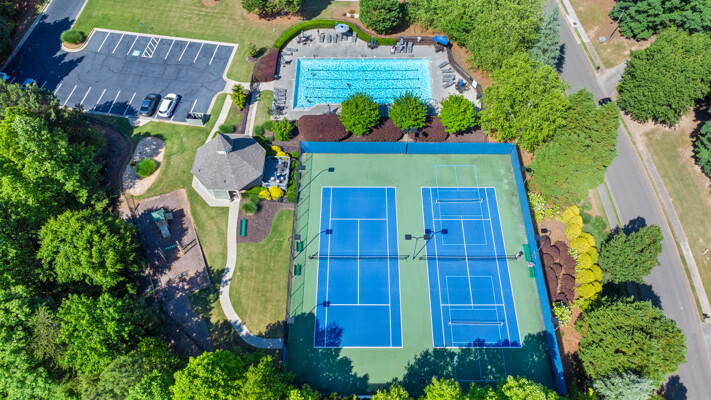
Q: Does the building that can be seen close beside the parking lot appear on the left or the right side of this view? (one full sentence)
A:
The building that can be seen close beside the parking lot sits on the left side.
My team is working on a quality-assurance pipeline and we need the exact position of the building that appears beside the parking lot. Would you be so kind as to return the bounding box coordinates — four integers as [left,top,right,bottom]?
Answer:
[192,133,270,204]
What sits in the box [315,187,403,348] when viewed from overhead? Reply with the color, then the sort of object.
blue tennis court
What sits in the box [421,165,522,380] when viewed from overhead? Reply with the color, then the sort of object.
blue tennis court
